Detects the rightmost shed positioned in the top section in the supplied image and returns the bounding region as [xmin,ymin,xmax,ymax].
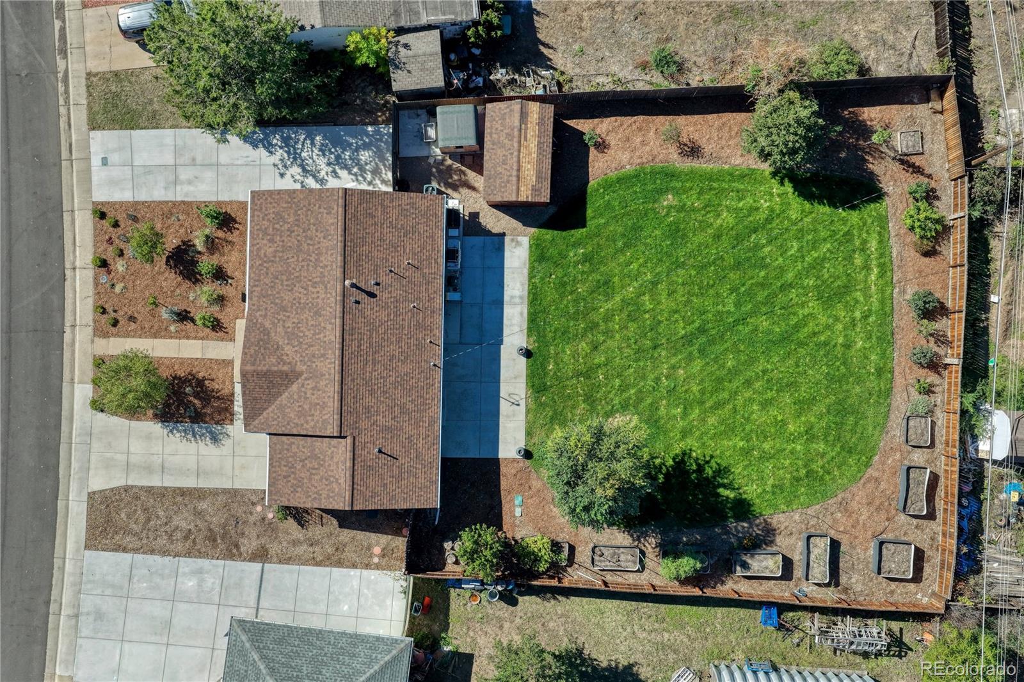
[483,100,554,206]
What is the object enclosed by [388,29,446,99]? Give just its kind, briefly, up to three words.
shed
